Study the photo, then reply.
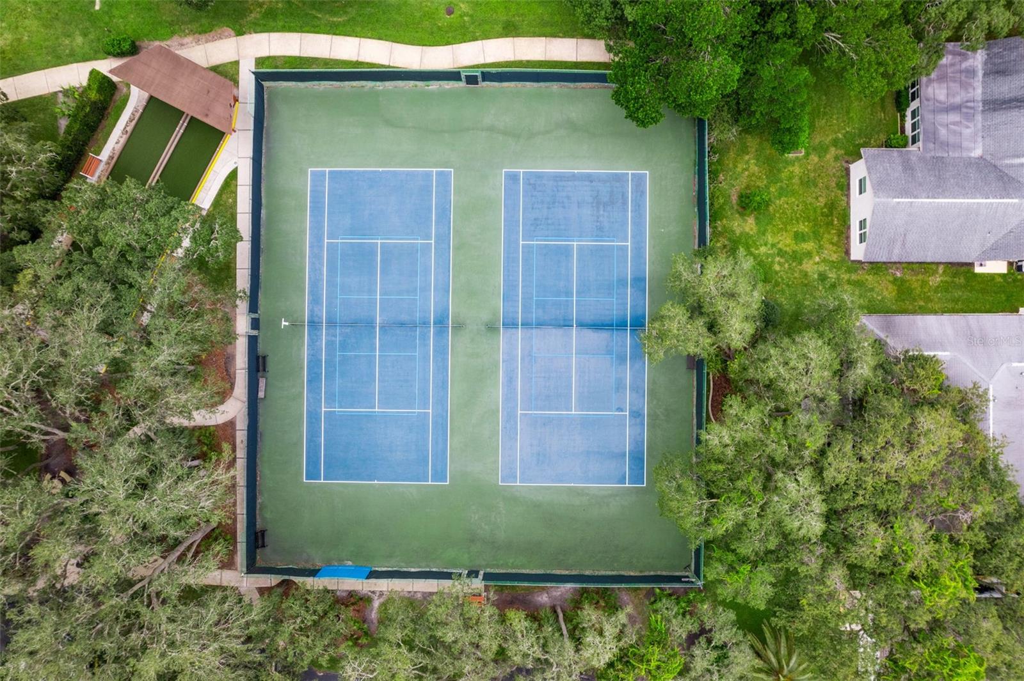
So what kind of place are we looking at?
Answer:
sports ground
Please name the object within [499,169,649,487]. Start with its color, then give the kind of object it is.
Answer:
blue tennis court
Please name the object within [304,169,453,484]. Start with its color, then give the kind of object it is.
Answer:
blue tennis court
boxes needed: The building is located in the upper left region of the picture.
[109,44,236,134]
